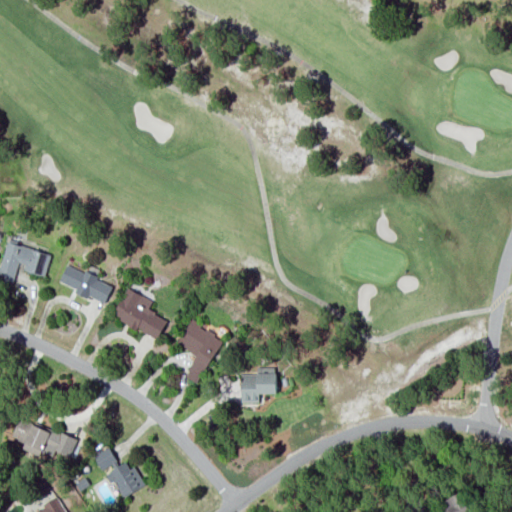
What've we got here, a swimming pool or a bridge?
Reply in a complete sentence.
The image shows a swimming pool.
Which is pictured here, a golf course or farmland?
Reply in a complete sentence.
What you see here is a golf course.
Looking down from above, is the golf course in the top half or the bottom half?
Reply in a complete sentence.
The top half of the photo is where the golf course is.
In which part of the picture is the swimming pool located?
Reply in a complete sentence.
The swimming pool sits in the bottom left section of the image.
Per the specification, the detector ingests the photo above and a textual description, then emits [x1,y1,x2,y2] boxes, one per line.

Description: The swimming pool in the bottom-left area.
[92,478,120,508]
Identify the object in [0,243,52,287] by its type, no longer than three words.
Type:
house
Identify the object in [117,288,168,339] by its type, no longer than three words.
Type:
house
